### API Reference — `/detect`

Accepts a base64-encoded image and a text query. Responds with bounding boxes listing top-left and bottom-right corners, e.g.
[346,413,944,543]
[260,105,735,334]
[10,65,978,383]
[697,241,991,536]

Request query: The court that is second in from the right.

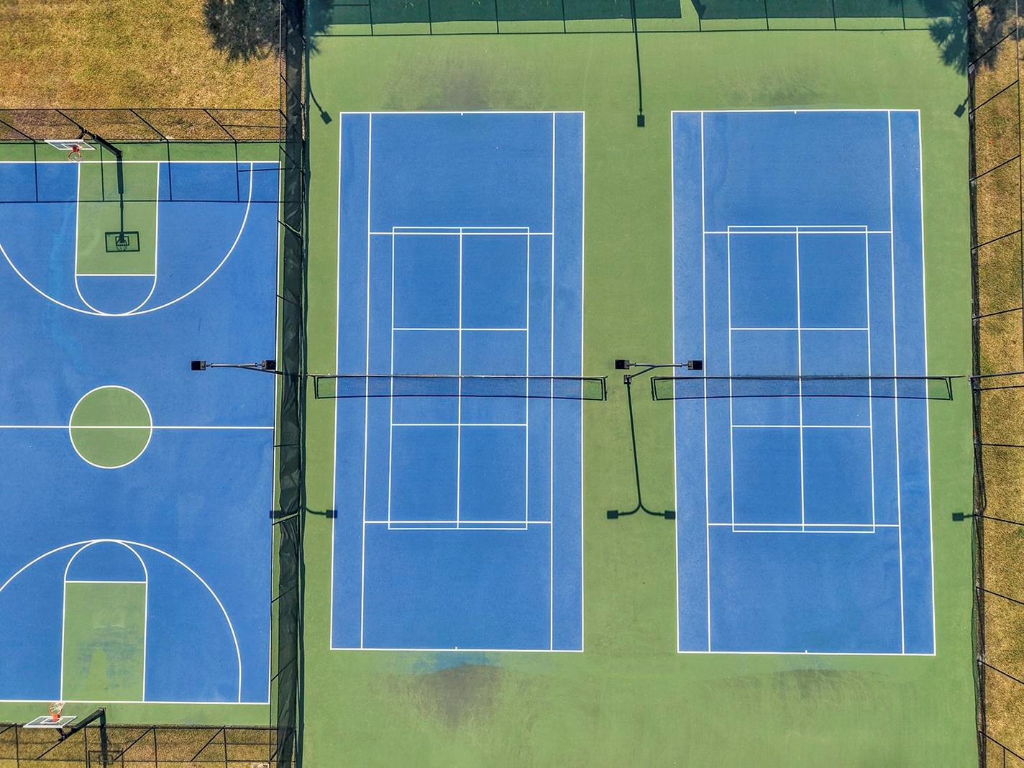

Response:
[331,113,584,652]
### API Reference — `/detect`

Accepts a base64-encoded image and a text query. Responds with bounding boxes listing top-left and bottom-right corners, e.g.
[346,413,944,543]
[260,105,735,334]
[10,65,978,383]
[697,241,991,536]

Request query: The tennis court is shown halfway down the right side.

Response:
[672,111,935,654]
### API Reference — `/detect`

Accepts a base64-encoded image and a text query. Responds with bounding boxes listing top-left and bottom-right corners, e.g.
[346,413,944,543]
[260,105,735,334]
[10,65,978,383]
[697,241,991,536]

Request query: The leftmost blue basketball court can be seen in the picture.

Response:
[0,161,281,705]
